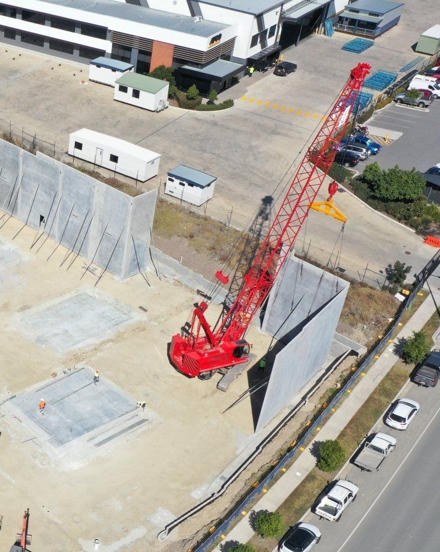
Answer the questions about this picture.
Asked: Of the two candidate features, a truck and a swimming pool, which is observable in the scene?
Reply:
truck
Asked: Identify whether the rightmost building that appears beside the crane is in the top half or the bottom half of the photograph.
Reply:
top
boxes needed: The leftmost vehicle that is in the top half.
[271,59,298,76]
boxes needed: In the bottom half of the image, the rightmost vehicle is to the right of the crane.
[415,348,440,388]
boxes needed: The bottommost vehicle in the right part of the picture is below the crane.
[280,521,321,552]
